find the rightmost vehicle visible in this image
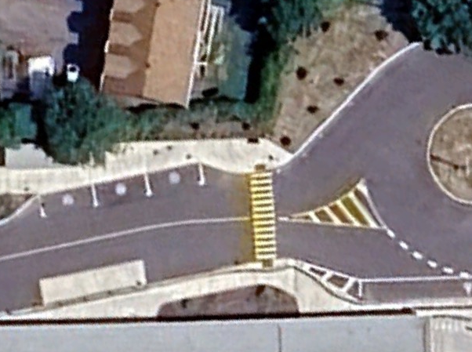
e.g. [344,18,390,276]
[66,60,80,83]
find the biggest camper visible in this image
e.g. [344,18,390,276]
[27,47,55,92]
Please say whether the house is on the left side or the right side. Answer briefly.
left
